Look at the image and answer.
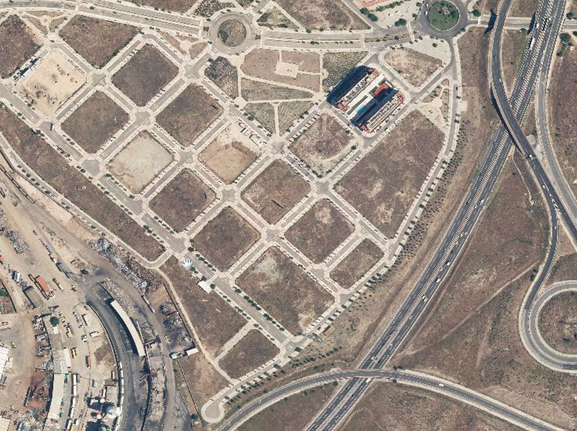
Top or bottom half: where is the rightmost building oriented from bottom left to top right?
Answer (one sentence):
The rightmost building oriented from bottom left to top right is in the top half of the image.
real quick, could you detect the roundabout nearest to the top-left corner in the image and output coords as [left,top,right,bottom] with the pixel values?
[209,10,255,56]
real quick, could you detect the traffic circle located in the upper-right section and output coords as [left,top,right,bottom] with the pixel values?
[420,0,467,39]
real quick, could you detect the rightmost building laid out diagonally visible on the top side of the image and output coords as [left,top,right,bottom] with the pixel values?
[361,94,405,137]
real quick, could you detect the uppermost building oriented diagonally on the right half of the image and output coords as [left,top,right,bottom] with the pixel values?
[336,70,379,113]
